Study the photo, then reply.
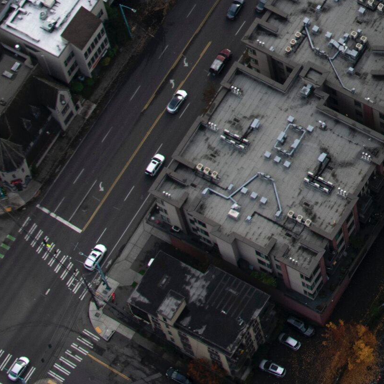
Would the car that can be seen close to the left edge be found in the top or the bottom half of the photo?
bottom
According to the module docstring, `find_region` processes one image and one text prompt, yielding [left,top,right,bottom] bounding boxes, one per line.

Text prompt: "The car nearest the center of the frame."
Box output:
[142,151,168,180]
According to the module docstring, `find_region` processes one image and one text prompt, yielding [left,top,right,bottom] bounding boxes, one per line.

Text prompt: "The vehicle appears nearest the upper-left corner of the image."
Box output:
[167,89,188,115]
